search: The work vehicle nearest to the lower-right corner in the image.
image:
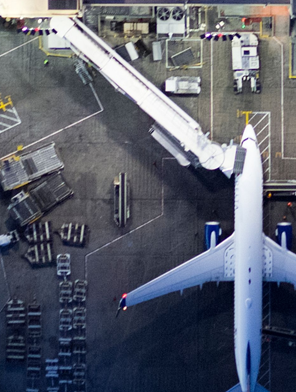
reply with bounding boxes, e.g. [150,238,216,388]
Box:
[262,323,296,345]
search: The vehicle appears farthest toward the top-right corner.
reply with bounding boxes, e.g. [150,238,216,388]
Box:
[231,33,260,92]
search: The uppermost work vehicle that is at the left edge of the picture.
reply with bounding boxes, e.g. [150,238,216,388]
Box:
[0,142,64,192]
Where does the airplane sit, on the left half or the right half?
right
